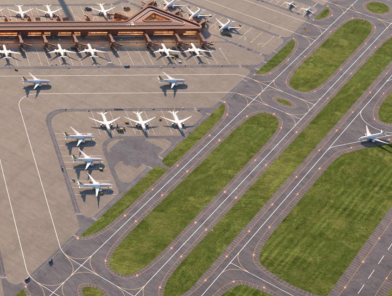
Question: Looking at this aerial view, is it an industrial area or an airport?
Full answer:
The picture captures an airport.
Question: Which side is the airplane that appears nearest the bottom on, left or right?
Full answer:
The airplane that appears nearest the bottom appears in the left half of the scene.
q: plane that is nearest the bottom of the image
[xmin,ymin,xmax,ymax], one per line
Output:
[78,173,112,195]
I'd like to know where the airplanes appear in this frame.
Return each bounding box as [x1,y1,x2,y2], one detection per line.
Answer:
[156,71,185,87]
[62,126,93,145]
[282,1,296,8]
[217,16,235,31]
[188,4,204,19]
[155,43,182,58]
[70,147,102,168]
[186,43,206,57]
[163,0,179,10]
[9,3,32,19]
[90,3,113,17]
[81,43,105,58]
[21,72,50,88]
[78,173,112,195]
[125,108,155,131]
[359,125,389,143]
[162,109,191,130]
[39,5,59,18]
[91,108,117,131]
[0,44,18,59]
[299,8,314,13]
[48,44,72,58]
